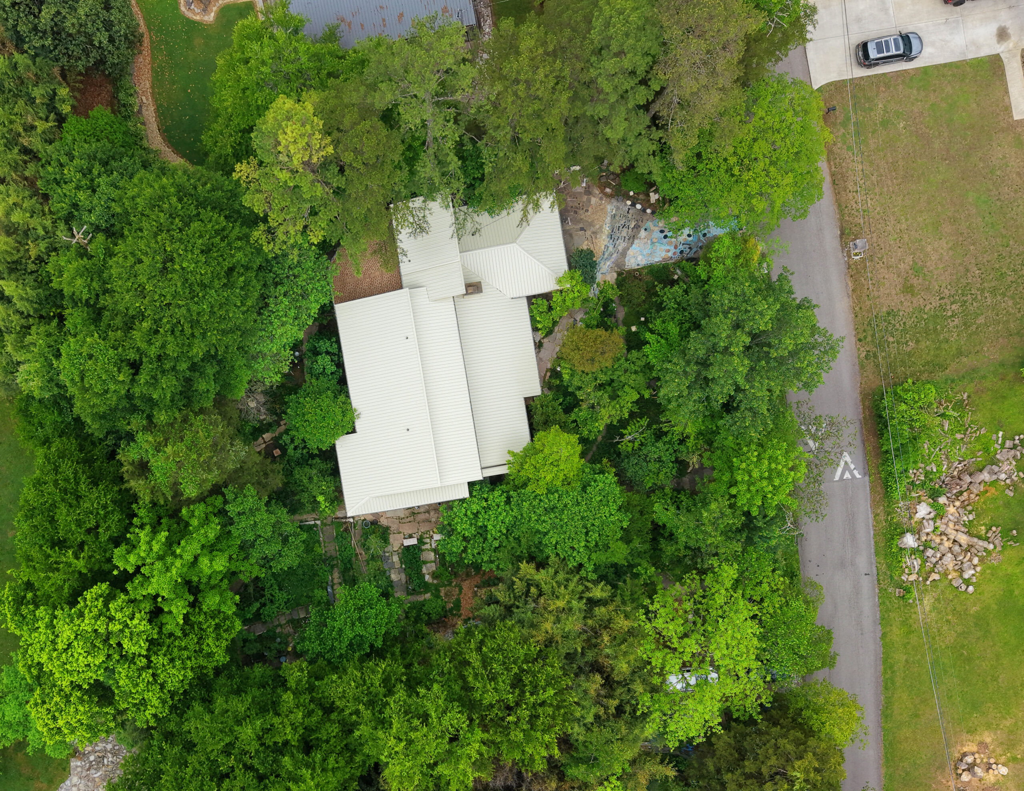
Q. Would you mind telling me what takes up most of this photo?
trees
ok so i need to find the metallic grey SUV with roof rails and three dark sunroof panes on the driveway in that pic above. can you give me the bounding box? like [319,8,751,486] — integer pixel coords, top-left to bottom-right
[853,26,925,70]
